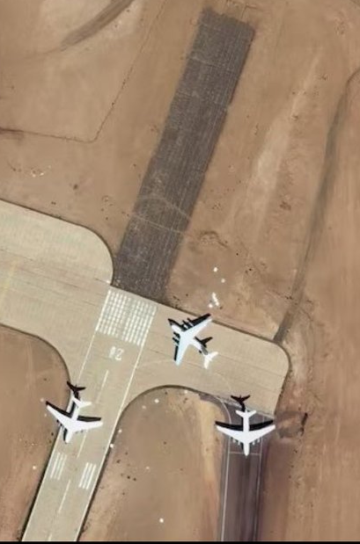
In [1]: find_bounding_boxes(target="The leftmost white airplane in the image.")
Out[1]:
[45,399,102,443]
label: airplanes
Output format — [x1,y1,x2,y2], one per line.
[45,399,102,443]
[217,410,275,456]
[171,321,219,367]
